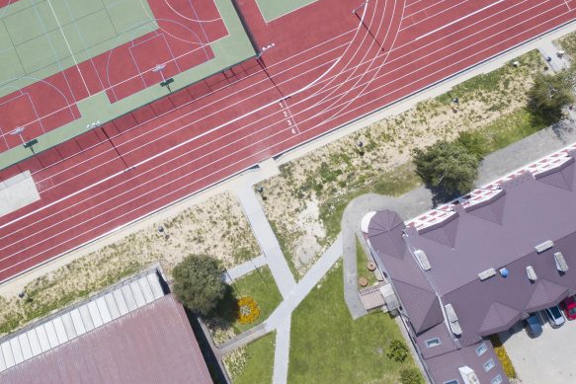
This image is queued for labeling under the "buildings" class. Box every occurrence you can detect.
[0,266,213,384]
[355,141,576,384]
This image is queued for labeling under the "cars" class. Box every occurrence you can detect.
[560,294,576,324]
[543,302,569,334]
[520,313,546,345]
